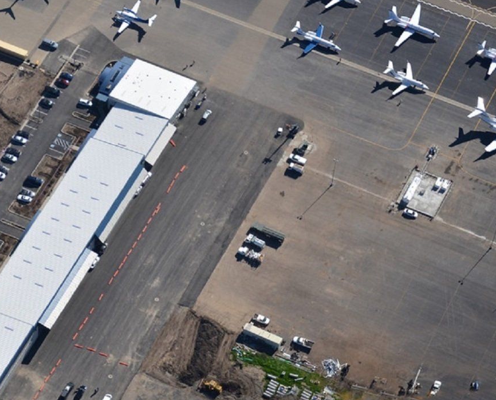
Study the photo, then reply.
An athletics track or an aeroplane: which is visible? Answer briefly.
aeroplane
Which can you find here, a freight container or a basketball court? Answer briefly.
freight container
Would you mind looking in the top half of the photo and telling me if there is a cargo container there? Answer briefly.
No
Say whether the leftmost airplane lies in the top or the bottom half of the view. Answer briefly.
top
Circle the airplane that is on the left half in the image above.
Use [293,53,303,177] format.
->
[116,0,159,33]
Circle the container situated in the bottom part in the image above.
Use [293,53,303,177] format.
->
[243,324,282,350]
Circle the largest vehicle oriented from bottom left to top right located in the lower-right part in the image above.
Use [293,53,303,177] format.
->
[427,381,443,396]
